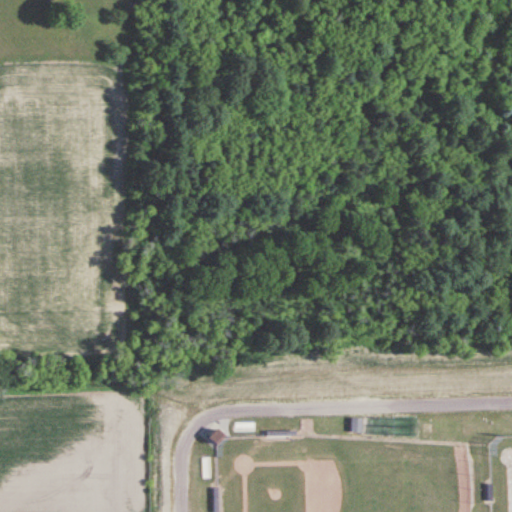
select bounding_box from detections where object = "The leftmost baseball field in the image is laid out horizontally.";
[218,440,472,512]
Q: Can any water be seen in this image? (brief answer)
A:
No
